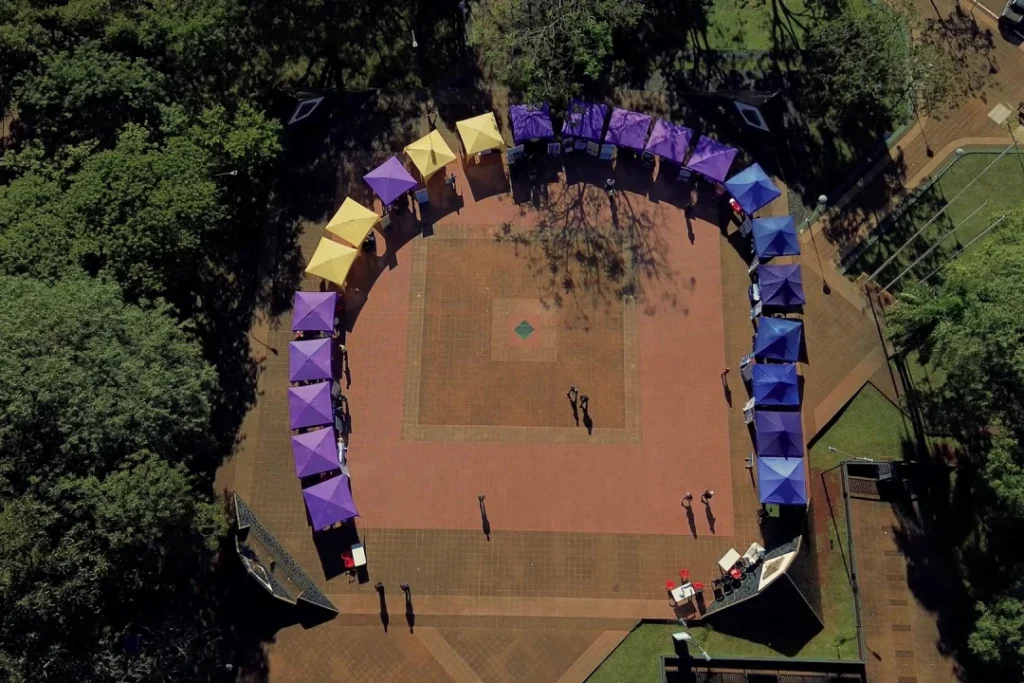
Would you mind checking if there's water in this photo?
No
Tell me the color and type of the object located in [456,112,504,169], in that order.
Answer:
yellow gazebo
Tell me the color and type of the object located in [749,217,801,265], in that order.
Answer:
blue gazebo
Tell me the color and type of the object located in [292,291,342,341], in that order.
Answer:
purple gazebo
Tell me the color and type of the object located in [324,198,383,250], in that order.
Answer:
yellow gazebo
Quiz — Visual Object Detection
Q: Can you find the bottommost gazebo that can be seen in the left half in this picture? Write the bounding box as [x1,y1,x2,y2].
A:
[304,474,364,535]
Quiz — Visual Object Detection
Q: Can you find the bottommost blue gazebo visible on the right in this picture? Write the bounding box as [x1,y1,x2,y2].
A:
[752,458,806,508]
